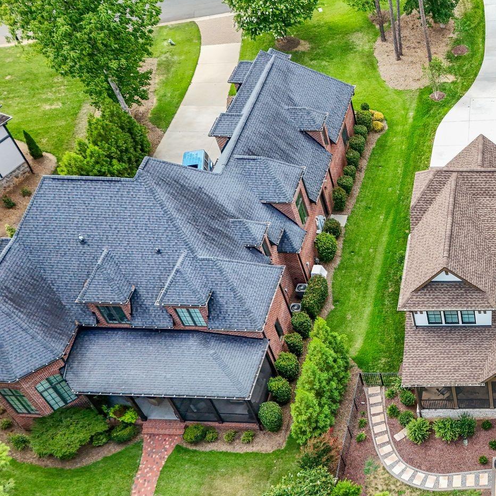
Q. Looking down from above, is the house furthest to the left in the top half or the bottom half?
top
